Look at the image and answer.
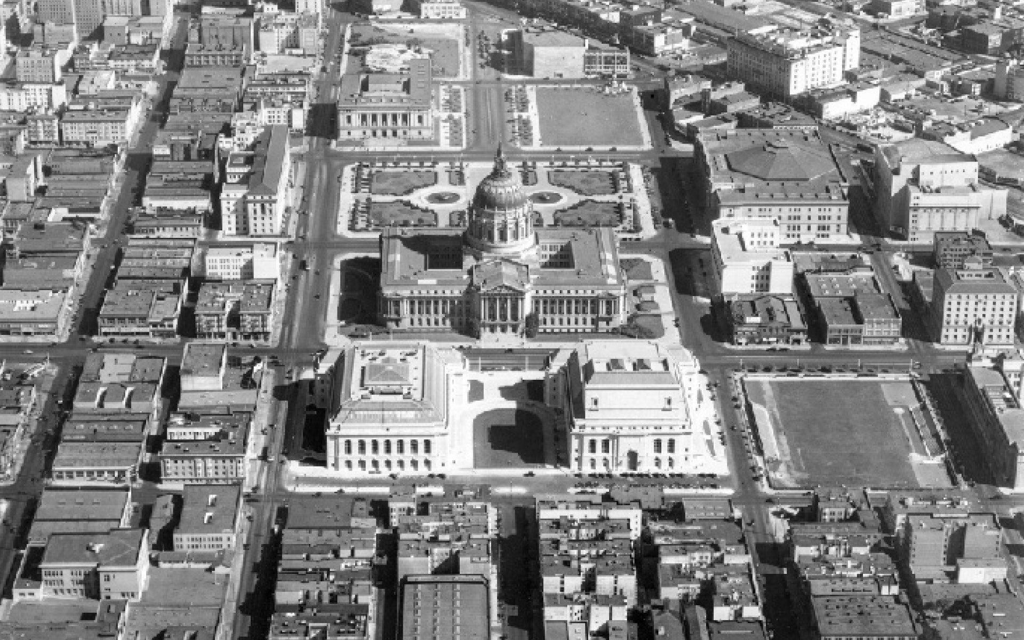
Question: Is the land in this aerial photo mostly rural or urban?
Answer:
urban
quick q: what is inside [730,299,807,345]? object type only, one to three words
house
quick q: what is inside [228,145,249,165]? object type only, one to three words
house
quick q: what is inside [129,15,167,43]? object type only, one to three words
building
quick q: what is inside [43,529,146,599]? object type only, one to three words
building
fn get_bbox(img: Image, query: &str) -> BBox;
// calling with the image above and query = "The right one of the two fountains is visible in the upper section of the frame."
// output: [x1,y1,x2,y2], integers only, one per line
[530,191,561,203]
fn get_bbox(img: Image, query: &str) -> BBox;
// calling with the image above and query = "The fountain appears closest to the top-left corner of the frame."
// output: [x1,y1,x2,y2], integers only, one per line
[427,190,460,202]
